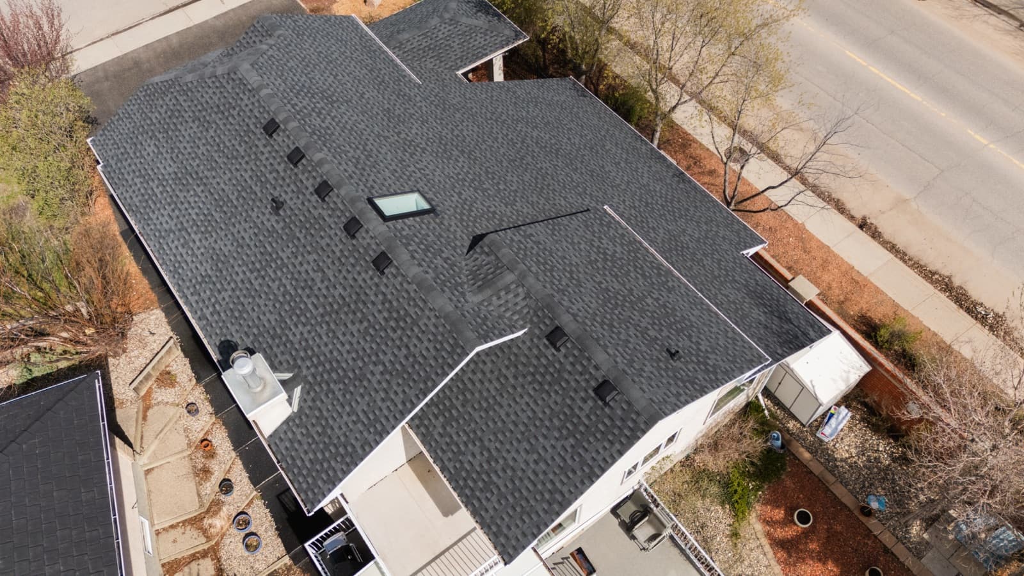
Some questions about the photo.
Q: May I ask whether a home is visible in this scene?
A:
Yes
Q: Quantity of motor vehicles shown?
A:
0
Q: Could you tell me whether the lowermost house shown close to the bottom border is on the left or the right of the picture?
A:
left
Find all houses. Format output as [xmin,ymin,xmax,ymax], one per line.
[0,370,157,576]
[82,0,833,576]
